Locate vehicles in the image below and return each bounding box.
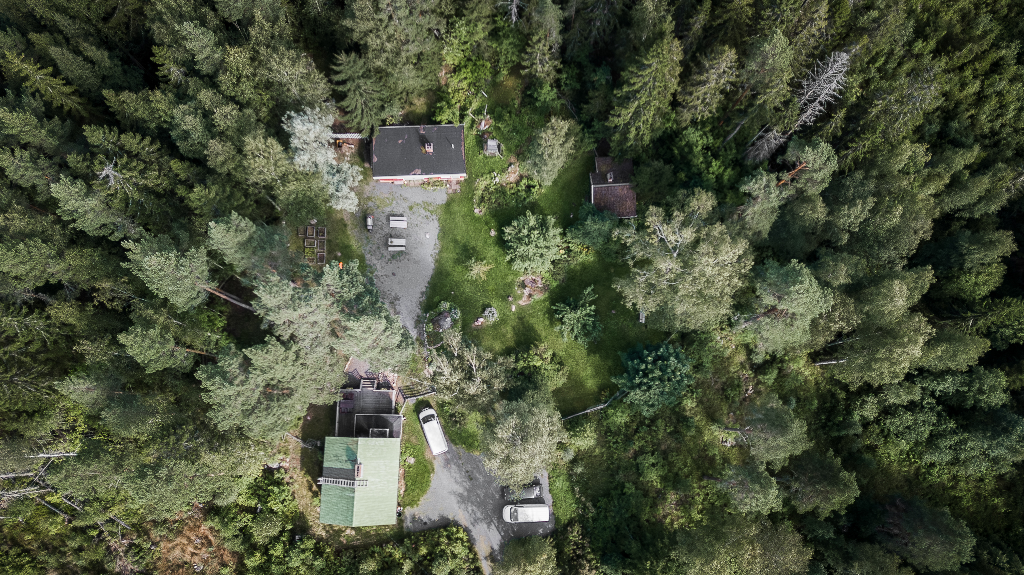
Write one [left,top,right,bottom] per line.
[504,483,545,504]
[501,503,550,527]
[418,407,449,458]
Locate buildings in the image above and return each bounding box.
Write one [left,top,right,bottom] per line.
[373,124,467,185]
[486,140,505,161]
[590,156,638,219]
[319,437,403,527]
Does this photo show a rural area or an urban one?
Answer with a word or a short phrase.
rural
